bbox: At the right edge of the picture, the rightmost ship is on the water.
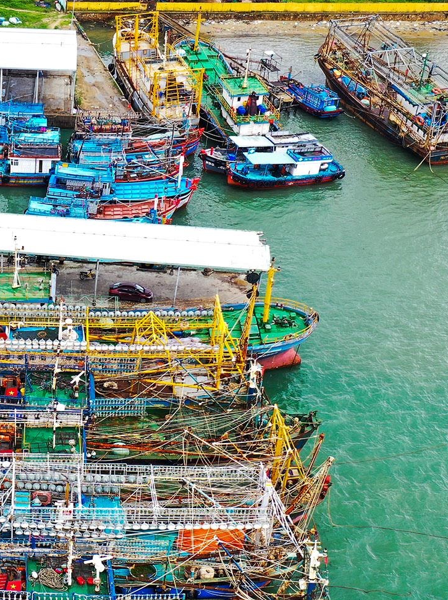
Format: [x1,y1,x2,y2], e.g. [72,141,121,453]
[306,26,448,170]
